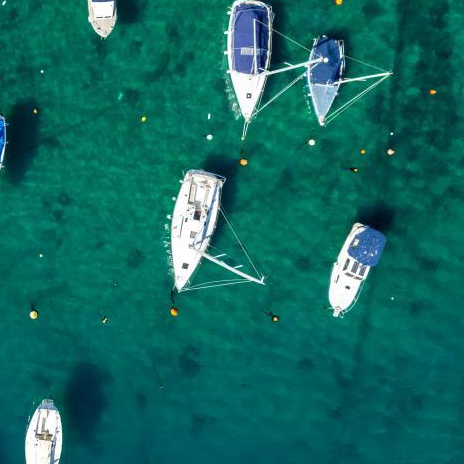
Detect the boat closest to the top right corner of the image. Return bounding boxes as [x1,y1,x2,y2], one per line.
[303,34,394,127]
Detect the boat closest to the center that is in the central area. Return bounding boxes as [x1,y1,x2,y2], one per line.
[165,169,266,305]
